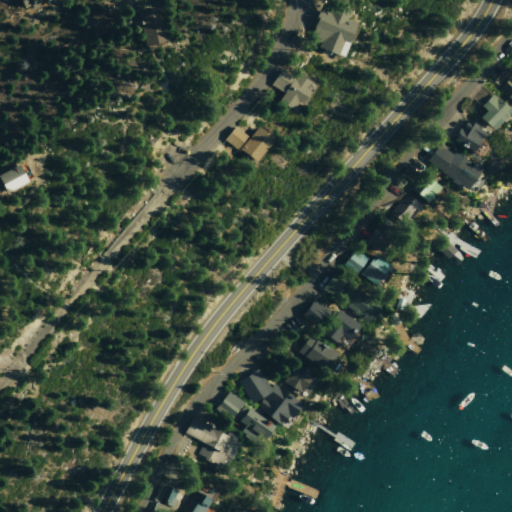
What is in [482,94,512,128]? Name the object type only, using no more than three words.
house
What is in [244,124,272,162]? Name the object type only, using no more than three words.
building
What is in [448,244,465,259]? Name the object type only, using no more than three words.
boat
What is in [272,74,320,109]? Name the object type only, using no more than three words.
house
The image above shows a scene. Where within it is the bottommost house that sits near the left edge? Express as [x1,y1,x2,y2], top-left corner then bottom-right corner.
[0,164,30,192]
